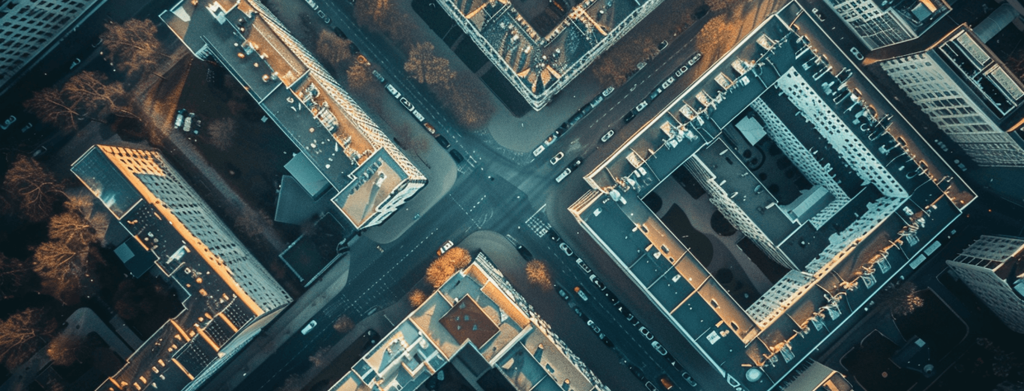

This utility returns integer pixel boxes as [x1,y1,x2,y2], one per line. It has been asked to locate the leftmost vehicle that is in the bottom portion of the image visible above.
[299,319,316,336]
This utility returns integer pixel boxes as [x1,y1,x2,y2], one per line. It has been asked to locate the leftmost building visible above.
[0,0,107,93]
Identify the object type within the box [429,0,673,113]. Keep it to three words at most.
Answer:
building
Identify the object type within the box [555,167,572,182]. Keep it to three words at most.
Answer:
vehicle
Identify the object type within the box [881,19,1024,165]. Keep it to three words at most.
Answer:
building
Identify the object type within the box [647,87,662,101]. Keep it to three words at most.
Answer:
car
